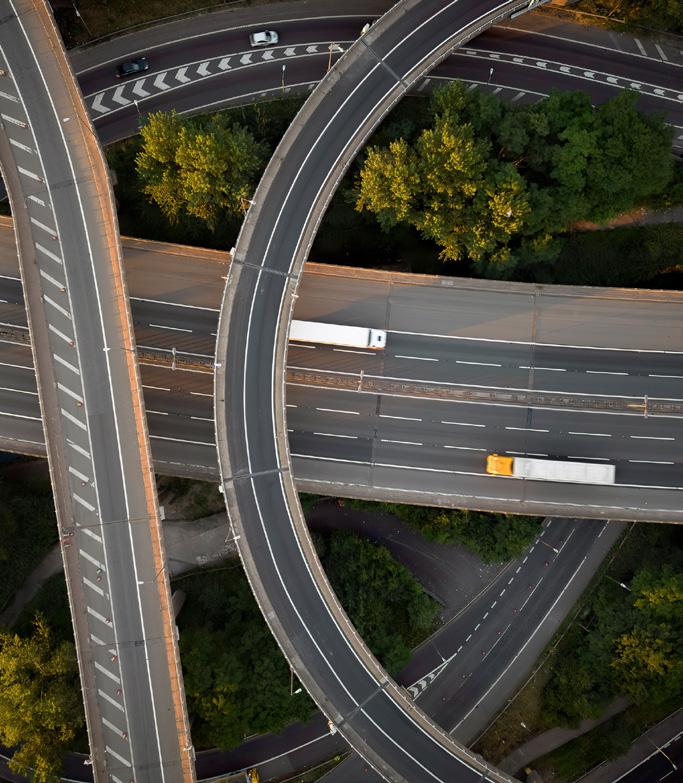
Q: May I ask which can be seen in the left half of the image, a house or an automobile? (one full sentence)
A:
Visible in the left half of the image is an automobile.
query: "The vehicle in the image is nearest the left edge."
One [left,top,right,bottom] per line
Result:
[116,57,149,79]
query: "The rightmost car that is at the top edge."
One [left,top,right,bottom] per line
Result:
[249,31,278,49]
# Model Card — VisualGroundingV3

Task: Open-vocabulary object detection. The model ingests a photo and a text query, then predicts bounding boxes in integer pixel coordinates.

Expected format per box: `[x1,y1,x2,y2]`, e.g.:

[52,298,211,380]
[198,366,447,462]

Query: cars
[249,31,278,49]
[116,57,149,79]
